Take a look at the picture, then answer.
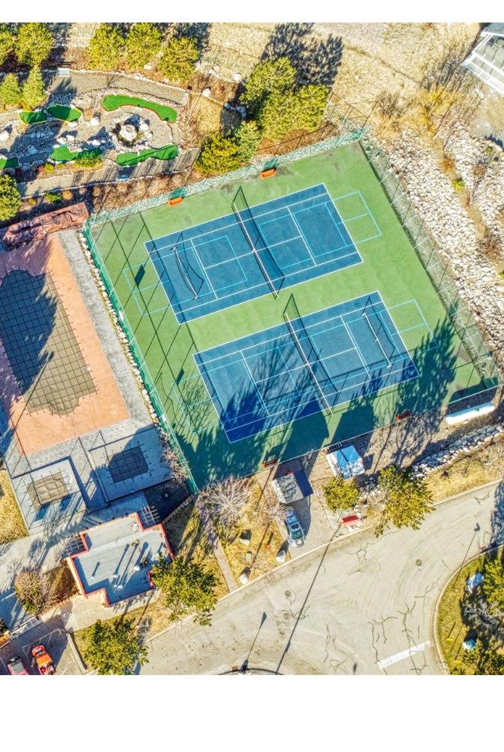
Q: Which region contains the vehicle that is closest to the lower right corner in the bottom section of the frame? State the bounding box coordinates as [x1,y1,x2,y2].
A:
[277,506,308,554]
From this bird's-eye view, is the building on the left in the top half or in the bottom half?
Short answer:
bottom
